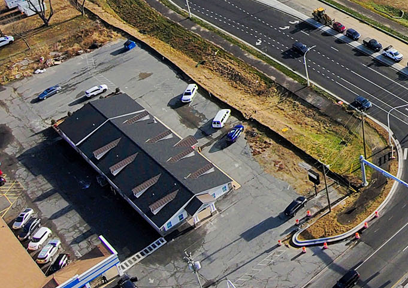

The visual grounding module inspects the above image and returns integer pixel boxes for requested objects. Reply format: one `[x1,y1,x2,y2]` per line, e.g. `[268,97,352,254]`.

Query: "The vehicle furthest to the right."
[382,47,402,61]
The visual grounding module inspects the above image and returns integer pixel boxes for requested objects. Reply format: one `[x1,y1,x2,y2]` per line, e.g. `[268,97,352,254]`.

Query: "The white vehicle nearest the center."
[214,105,232,129]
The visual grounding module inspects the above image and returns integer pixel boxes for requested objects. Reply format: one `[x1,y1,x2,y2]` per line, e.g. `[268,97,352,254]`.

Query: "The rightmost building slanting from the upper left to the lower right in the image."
[53,93,241,242]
